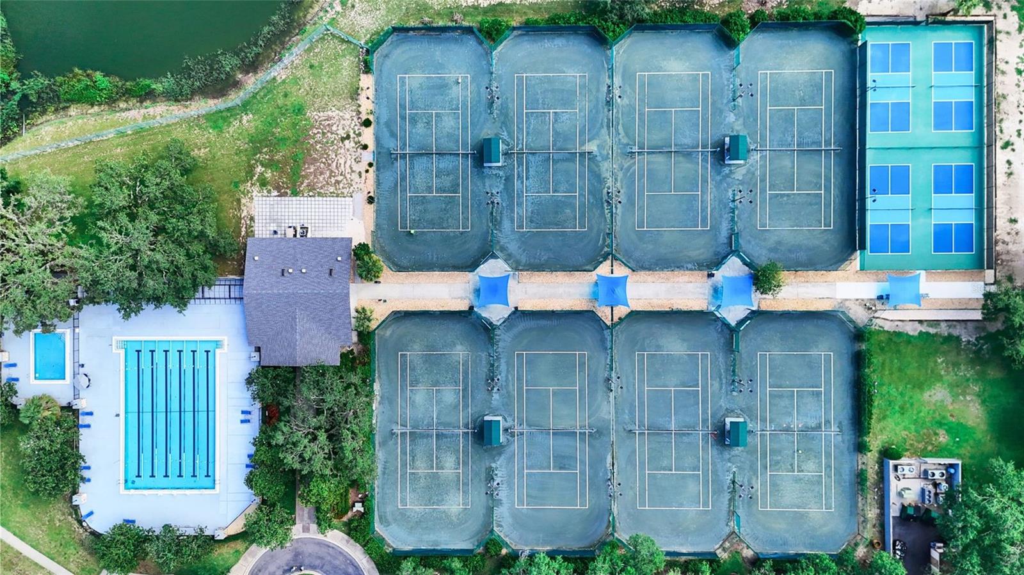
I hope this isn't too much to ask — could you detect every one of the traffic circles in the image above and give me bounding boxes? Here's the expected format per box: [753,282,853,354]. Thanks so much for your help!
[233,522,378,575]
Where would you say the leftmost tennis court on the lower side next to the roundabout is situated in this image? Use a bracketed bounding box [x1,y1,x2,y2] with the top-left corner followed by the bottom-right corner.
[375,311,493,548]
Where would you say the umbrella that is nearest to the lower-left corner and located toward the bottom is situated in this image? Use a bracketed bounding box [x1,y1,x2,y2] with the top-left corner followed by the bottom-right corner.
[73,373,90,388]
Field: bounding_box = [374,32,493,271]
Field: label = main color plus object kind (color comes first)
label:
blue tennis court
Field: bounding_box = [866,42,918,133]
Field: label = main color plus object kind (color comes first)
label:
blue sports court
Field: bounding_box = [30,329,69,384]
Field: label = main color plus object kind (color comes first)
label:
blue swimming pool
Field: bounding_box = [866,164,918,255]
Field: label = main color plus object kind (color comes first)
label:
blue sports court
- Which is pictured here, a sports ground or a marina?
sports ground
